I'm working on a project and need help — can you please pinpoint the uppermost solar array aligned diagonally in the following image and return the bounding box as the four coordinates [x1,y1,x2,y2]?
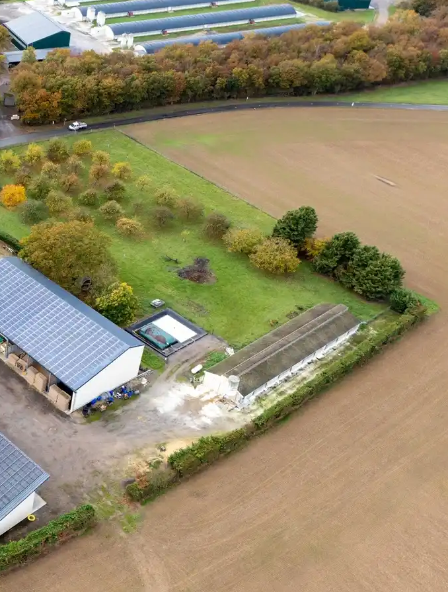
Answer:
[0,258,124,388]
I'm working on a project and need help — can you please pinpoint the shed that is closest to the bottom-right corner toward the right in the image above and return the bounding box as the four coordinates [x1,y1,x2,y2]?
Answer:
[199,303,363,409]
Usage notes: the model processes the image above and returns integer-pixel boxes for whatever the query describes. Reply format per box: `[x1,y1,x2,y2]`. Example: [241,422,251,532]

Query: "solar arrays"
[0,258,124,388]
[0,433,45,509]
